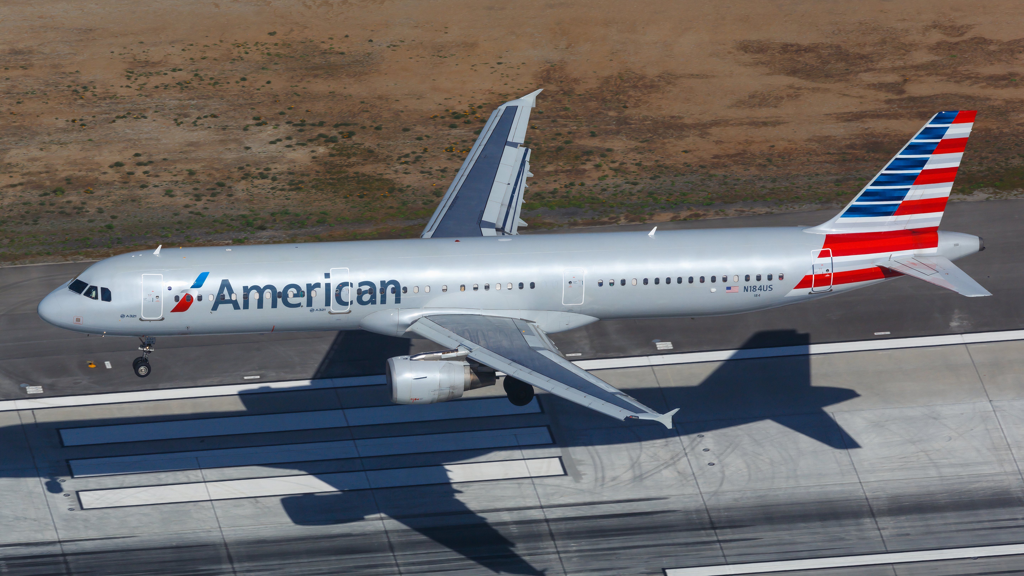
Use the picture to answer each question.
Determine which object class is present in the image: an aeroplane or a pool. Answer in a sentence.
It is an aeroplane that can be seen here.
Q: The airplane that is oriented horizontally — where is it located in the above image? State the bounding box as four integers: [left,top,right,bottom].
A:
[36,88,992,429]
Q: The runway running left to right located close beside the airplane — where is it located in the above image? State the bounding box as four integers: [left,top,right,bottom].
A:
[0,329,1024,576]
